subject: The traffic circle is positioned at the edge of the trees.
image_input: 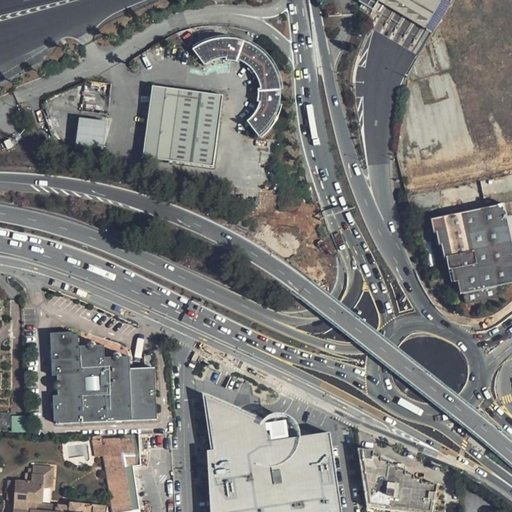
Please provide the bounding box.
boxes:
[368,311,490,425]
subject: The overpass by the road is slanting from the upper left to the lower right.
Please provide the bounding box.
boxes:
[0,172,512,467]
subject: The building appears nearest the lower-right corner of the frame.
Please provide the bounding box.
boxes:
[356,447,436,512]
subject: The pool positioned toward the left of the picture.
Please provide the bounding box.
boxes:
[62,440,94,466]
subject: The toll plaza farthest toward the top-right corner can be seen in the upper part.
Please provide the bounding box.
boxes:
[363,0,452,76]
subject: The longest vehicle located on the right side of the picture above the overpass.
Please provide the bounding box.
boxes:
[306,104,320,146]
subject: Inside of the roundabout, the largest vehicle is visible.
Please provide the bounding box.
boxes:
[396,396,426,417]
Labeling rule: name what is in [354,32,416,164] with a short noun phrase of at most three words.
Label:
toll station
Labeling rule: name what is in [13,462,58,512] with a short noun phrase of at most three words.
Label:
house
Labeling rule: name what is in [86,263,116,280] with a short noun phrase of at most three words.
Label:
vehicle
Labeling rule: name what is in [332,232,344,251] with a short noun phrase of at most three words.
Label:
vehicle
